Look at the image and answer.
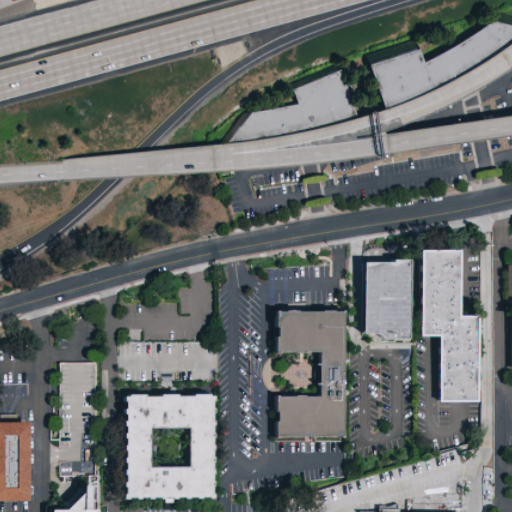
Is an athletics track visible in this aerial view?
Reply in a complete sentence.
No, I can't see a single athletics track in this photo.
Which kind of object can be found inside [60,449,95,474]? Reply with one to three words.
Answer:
house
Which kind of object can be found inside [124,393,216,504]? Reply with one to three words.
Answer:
building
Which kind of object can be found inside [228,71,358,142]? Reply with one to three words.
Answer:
building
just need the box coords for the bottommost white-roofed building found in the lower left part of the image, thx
[51,474,100,512]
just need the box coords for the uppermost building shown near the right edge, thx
[370,21,512,108]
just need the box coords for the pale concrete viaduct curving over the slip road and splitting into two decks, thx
[0,44,512,183]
